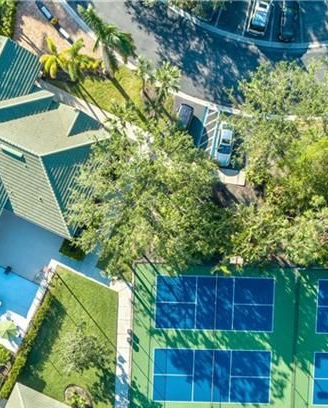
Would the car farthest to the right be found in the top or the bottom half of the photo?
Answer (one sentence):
The car farthest to the right is in the top half of the image.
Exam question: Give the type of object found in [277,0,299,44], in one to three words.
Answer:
car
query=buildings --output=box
[0,34,111,239]
[5,381,73,408]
